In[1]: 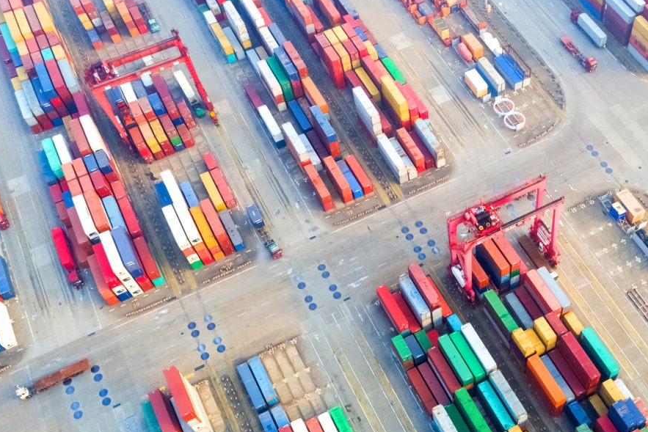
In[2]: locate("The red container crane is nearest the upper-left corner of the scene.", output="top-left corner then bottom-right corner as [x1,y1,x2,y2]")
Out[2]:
[76,27,222,160]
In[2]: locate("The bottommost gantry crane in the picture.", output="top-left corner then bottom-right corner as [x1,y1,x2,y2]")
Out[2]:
[442,168,565,308]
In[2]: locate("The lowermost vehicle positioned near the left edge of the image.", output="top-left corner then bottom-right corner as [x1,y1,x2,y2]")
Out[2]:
[17,360,94,404]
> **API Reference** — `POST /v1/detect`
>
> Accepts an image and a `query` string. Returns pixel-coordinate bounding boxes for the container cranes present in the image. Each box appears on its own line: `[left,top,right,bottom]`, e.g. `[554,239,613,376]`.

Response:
[442,168,565,308]
[76,27,222,160]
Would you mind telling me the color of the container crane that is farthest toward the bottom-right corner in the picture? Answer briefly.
red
